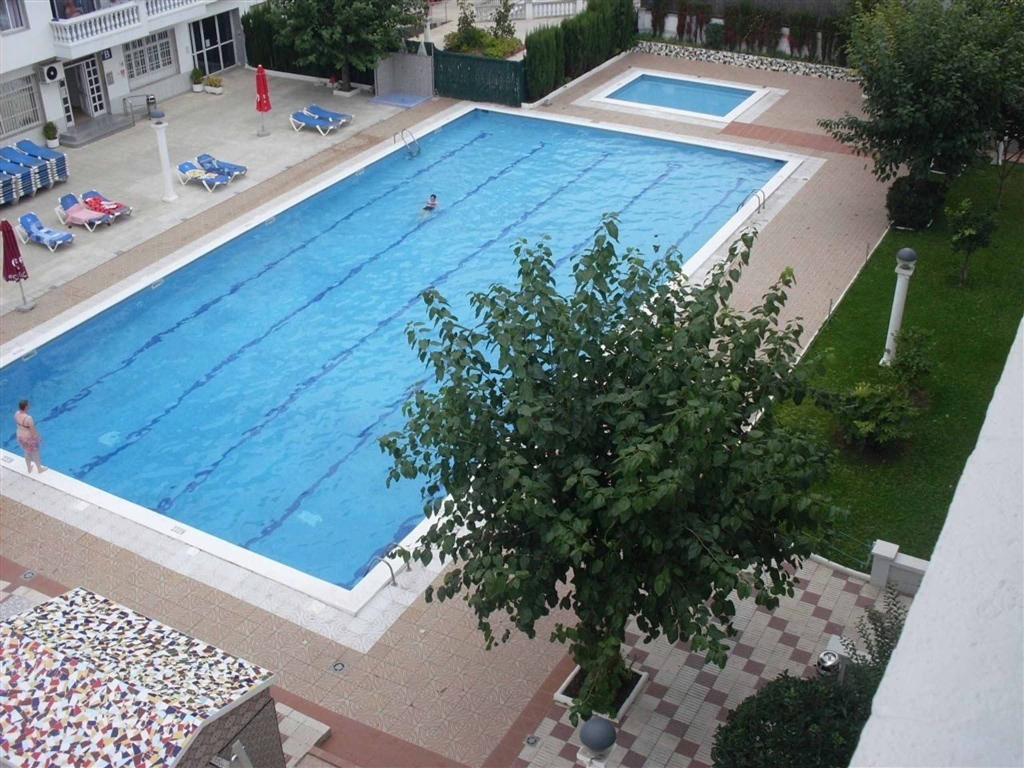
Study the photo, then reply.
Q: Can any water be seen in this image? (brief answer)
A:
Yes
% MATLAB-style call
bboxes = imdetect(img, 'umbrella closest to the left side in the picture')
[0,218,41,313]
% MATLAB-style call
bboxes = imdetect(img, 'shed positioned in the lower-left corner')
[0,585,284,768]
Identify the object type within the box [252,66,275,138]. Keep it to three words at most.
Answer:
umbrella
